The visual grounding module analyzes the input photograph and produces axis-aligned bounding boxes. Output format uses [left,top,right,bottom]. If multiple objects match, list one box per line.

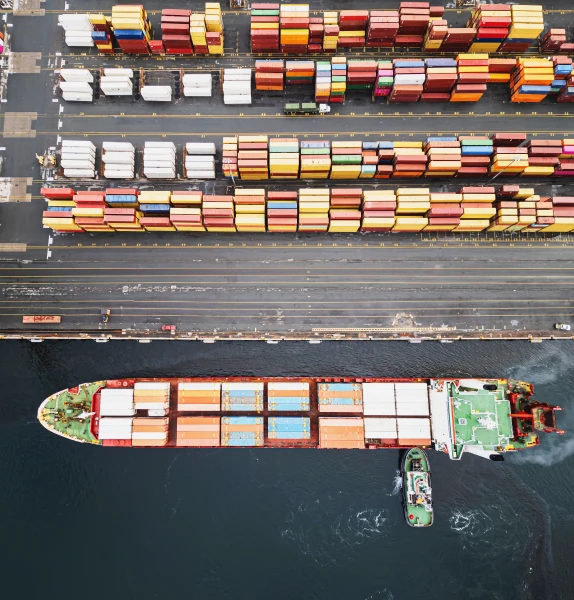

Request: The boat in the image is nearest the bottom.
[401,448,436,530]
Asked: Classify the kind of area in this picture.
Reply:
port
